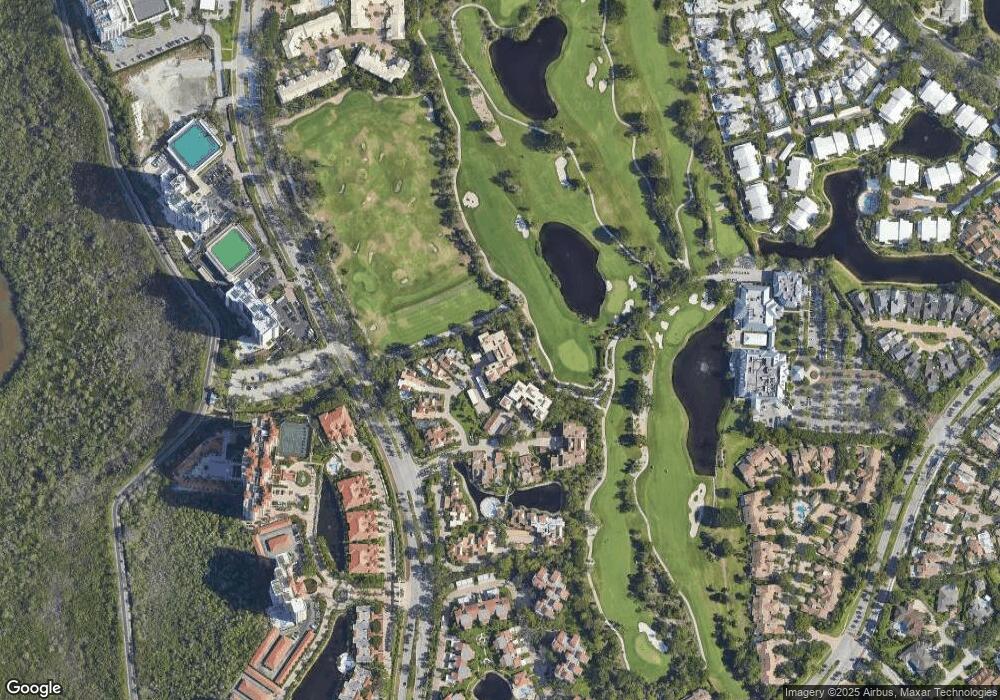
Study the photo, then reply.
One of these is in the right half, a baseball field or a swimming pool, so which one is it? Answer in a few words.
swimming pool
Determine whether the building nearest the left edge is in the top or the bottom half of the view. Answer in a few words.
top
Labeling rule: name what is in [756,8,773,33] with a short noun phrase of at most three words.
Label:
house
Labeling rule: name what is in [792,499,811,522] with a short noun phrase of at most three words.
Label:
swimming pool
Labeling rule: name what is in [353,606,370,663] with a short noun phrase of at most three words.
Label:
building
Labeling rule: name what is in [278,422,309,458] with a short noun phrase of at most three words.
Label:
tennis court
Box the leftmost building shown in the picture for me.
[84,0,130,44]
